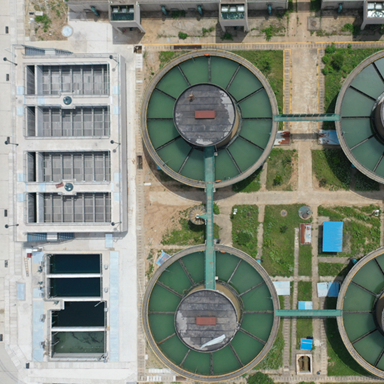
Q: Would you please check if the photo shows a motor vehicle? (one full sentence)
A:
No, no motor vehicle can be seen from above.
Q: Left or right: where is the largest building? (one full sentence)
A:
You can find the largest building on the left side of the picture.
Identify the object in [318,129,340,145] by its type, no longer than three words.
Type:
shed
